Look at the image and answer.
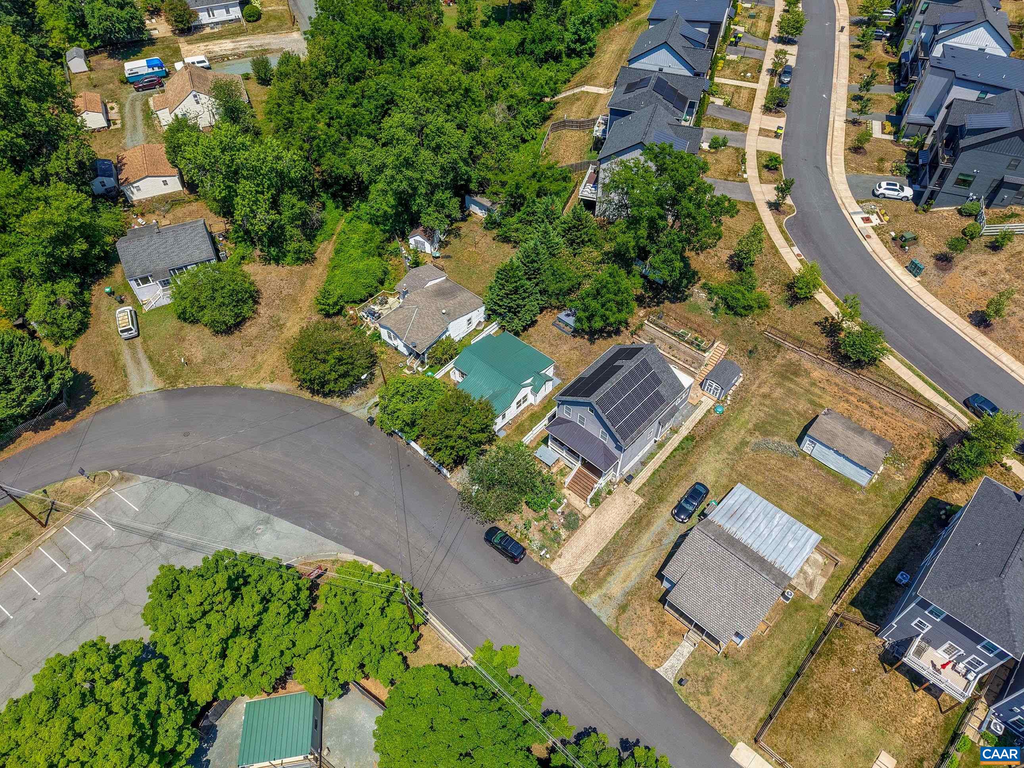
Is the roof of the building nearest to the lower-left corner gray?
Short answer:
No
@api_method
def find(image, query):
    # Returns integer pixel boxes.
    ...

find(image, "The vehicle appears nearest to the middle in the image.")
[479,524,529,565]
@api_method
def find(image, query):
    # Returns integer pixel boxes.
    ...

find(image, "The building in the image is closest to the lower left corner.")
[238,691,322,768]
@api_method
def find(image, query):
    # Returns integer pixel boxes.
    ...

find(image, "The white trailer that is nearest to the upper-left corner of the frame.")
[124,57,169,80]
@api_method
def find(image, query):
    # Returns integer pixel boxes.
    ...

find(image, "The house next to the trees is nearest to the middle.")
[453,331,555,429]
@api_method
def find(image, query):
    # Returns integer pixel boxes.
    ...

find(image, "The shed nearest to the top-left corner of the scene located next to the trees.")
[67,48,90,74]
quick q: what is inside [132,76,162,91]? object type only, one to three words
car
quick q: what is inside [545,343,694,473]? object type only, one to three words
house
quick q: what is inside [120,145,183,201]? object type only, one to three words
building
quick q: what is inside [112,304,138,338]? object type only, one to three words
car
